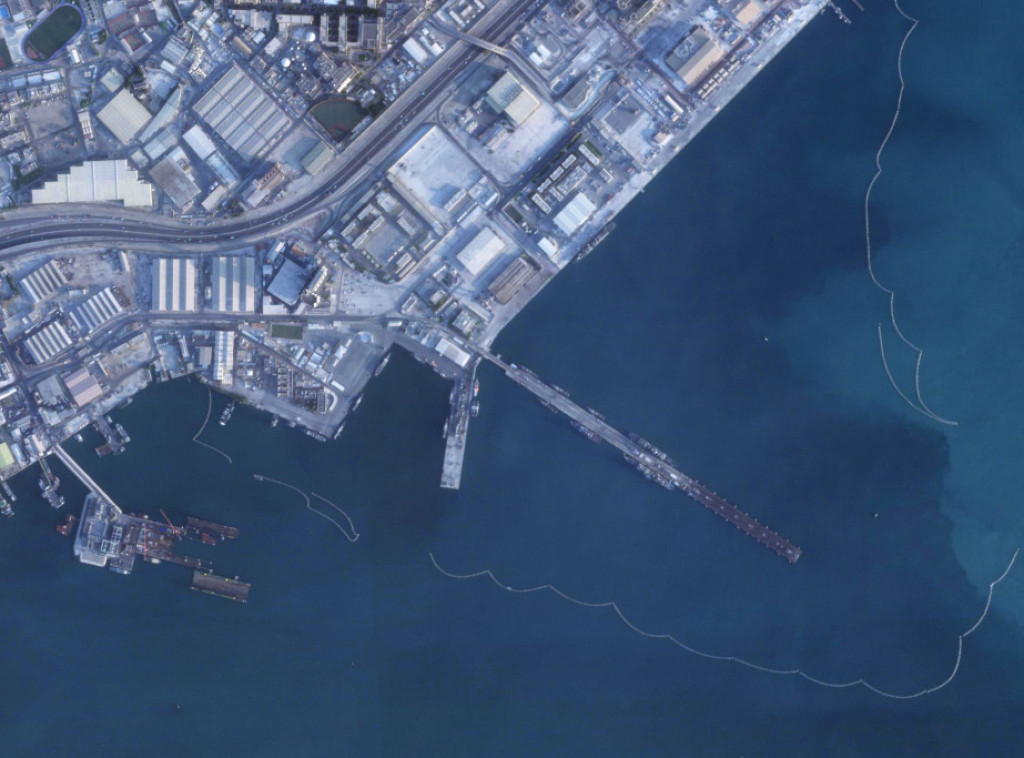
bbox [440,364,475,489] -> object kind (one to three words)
pier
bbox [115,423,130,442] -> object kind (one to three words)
boat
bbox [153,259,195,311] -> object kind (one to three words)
building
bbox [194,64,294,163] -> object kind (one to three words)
building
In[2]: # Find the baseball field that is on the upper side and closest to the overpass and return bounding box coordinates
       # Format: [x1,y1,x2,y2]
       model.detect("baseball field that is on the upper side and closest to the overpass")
[308,98,370,142]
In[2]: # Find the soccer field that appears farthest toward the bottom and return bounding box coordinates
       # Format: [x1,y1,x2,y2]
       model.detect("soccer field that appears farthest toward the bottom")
[270,321,304,340]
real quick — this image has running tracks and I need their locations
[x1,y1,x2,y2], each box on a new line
[21,1,86,65]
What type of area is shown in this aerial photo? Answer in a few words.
port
